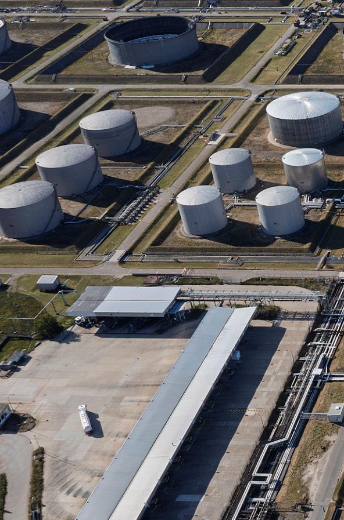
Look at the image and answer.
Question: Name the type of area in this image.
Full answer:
This looks like an industrial area.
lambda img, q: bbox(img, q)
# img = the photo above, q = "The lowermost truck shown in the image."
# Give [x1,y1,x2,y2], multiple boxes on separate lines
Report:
[74,399,96,433]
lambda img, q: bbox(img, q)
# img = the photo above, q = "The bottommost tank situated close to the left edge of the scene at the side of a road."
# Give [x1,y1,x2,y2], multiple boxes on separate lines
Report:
[0,181,67,241]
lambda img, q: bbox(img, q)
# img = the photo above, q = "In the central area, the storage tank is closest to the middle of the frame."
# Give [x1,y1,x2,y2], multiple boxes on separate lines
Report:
[175,185,231,237]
